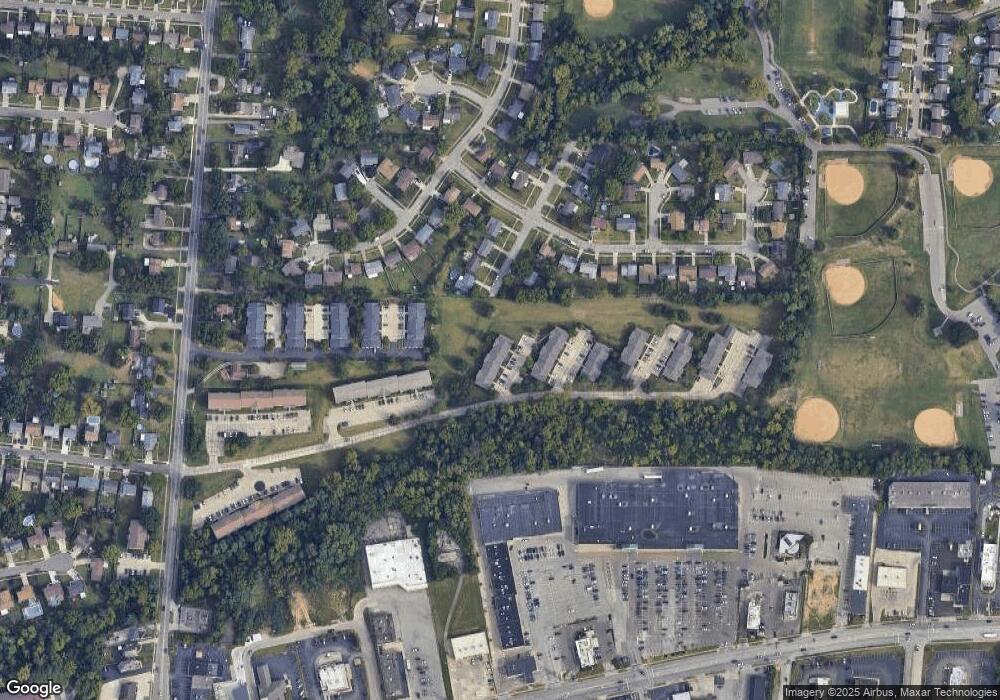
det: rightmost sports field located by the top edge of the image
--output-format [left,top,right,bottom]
[783,0,846,61]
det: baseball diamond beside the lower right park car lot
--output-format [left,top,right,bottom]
[893,393,963,449]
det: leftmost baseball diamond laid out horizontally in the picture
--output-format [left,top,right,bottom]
[566,0,669,36]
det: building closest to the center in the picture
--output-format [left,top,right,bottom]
[475,336,514,389]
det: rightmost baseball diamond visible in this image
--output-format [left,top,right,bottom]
[947,154,1000,228]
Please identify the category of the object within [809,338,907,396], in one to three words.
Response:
soccer field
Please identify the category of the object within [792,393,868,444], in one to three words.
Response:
baseball field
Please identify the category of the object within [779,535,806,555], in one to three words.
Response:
building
